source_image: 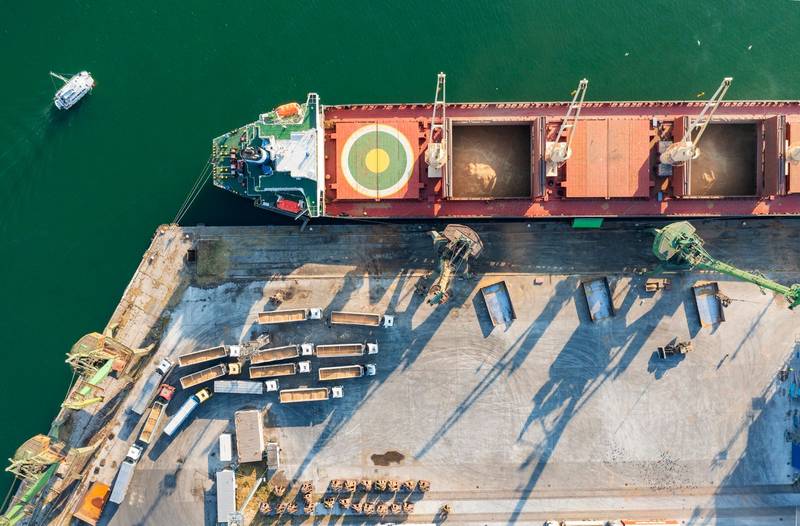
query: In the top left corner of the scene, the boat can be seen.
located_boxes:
[53,70,96,113]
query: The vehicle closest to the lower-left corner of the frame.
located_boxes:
[110,441,146,504]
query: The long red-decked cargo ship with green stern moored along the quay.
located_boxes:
[213,70,800,222]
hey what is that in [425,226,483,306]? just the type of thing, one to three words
crane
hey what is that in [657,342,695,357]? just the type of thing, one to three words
work vehicle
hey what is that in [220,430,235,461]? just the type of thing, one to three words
building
